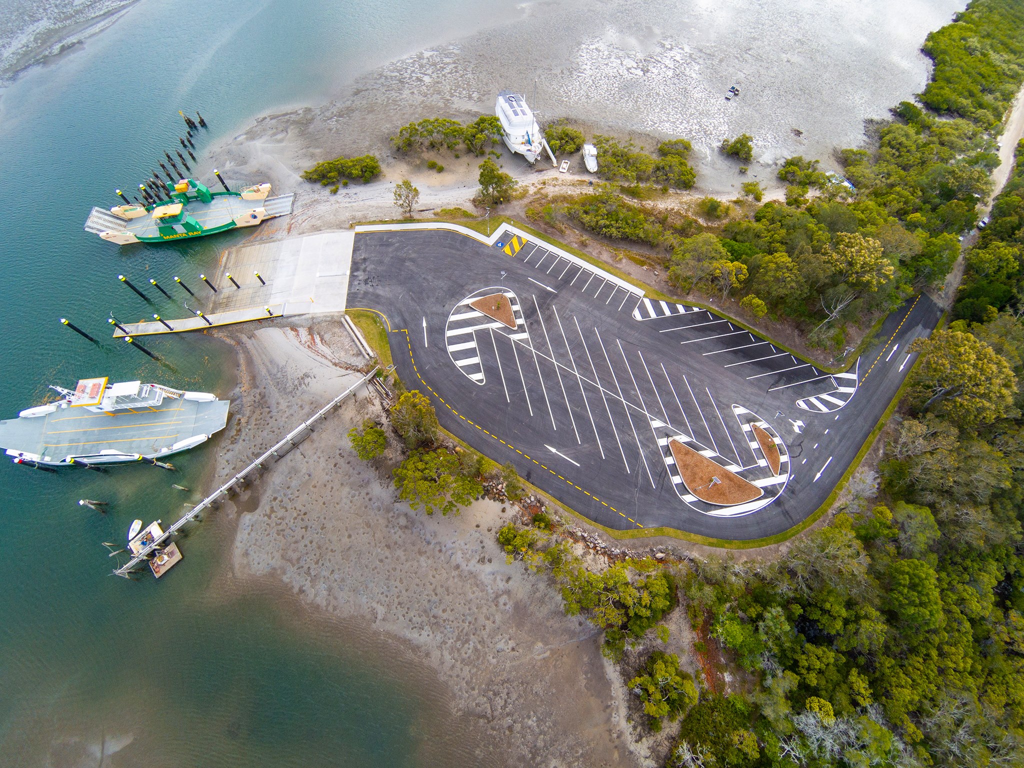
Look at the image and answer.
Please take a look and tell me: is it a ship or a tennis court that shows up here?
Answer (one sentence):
I can see a ship in this picture.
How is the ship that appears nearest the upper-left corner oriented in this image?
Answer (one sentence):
Seen from above, the ship that appears nearest the upper-left corner lies from left to right.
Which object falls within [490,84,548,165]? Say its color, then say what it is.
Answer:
white boat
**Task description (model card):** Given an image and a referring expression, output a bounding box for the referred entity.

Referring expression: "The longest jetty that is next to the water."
[98,368,374,582]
